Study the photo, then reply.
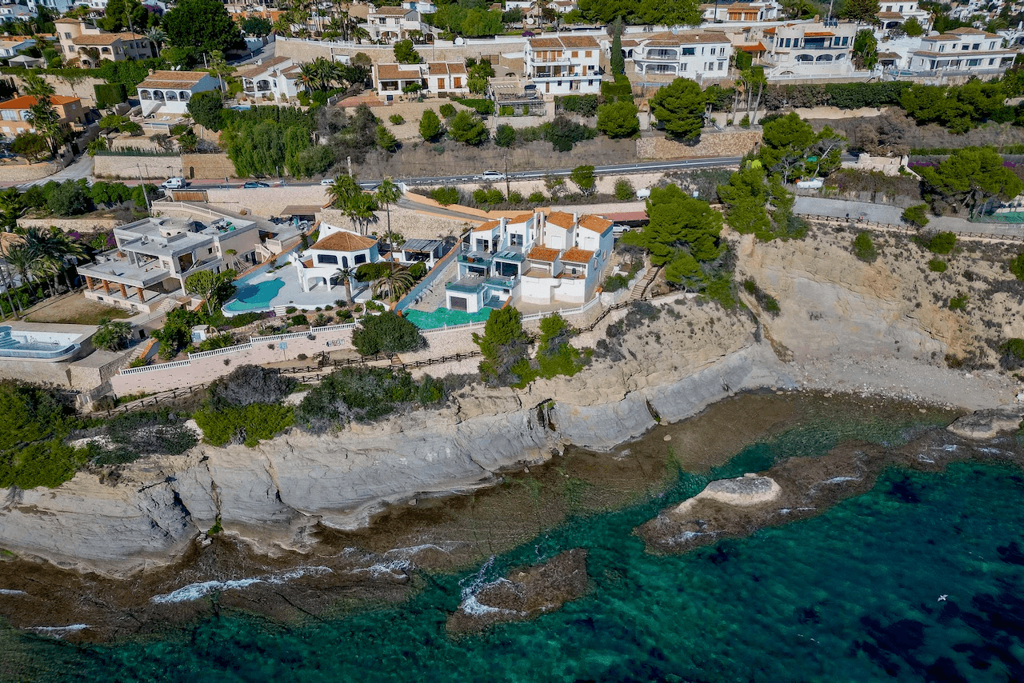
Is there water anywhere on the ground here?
Yes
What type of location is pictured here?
residential area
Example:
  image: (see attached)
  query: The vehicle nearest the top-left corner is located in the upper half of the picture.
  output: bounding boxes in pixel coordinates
[159,175,188,188]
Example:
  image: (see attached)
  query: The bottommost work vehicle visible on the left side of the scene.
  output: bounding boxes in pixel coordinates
[291,214,311,229]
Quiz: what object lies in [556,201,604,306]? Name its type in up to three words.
house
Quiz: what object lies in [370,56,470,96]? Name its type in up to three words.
house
